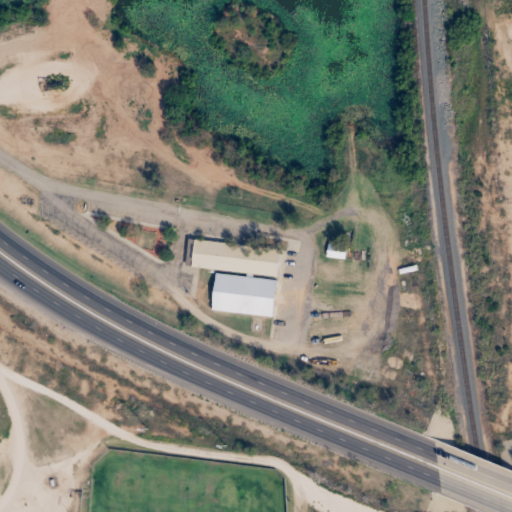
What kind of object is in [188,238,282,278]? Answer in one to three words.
building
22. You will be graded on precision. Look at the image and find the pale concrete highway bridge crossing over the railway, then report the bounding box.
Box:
[420,440,512,512]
